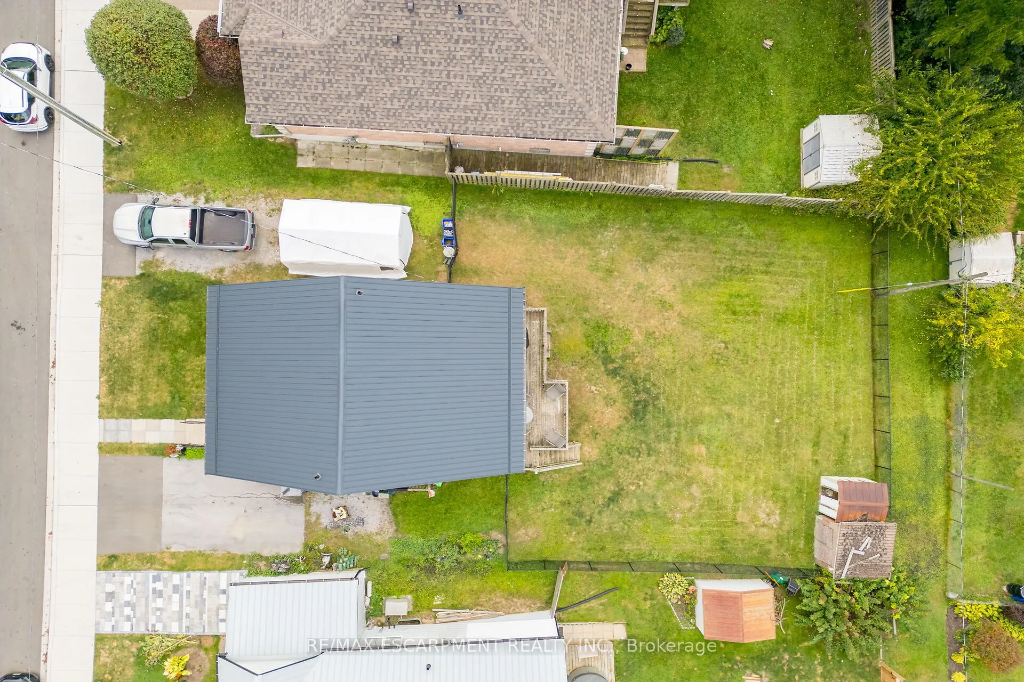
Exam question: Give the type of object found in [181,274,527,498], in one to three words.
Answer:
house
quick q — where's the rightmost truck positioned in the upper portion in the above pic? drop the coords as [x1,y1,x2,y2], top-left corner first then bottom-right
[111,195,258,253]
